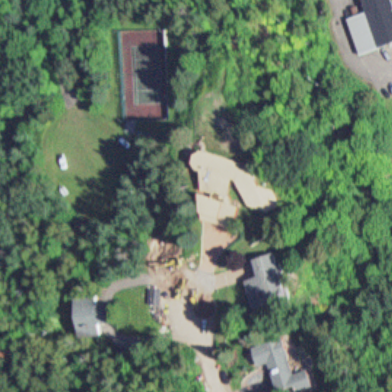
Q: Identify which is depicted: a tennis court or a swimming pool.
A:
tennis court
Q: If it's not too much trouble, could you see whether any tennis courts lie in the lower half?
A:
No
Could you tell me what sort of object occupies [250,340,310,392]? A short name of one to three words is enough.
house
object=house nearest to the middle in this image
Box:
[190,150,276,222]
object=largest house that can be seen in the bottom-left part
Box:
[72,294,102,337]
